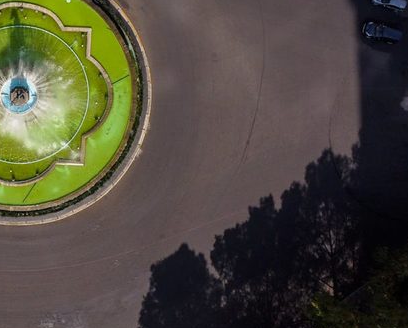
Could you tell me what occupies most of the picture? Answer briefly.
paved ground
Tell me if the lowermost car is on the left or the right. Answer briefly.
right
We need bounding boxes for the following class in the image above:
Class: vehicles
[360,20,403,42]
[367,0,408,12]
